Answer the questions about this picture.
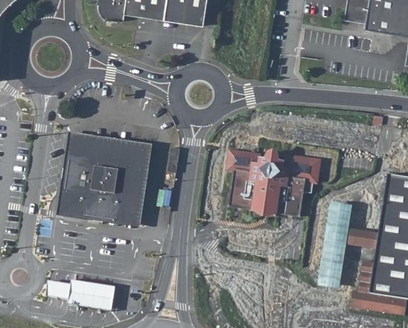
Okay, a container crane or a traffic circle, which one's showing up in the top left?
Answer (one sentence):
Visible in the top left is a traffic circle.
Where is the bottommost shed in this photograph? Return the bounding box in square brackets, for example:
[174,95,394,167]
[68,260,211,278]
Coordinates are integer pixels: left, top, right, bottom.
[351,291,408,316]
